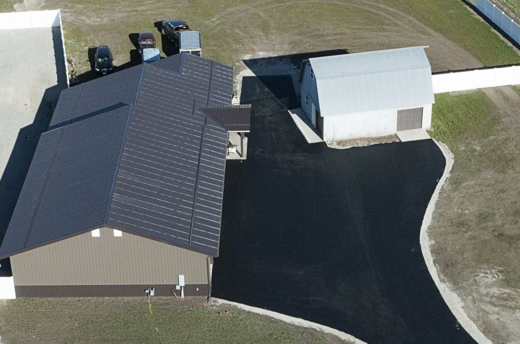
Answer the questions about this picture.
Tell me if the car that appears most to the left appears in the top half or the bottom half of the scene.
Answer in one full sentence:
The car that appears most to the left is in the top half of the image.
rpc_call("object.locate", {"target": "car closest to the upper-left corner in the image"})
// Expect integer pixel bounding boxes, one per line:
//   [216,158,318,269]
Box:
[89,40,114,73]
